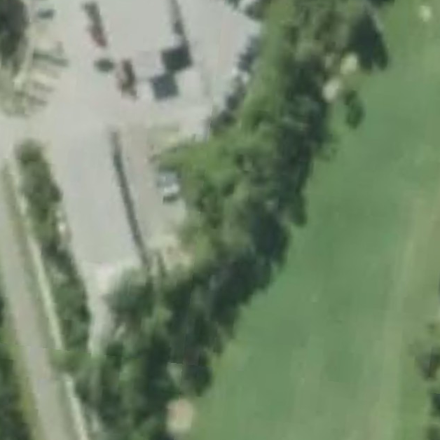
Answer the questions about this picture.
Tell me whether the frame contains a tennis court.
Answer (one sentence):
No, the scene contains no tennis court.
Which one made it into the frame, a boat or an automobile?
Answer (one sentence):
Looking from above, you can make out an automobile.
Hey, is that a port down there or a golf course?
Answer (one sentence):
What you see here is a golf course.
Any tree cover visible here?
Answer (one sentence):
Yes, there's tree cover in this view.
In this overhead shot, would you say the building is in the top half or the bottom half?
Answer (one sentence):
The building is in the top half of the image.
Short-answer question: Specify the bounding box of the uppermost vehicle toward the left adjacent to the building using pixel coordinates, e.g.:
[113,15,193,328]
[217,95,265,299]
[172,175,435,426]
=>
[85,0,99,22]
